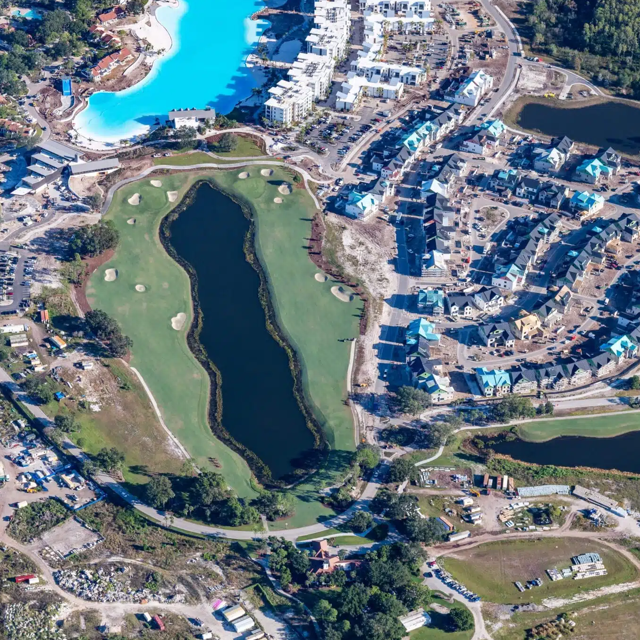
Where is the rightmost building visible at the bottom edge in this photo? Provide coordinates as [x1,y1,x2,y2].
[404,608,431,636]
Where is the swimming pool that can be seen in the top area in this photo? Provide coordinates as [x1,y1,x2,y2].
[7,7,45,21]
